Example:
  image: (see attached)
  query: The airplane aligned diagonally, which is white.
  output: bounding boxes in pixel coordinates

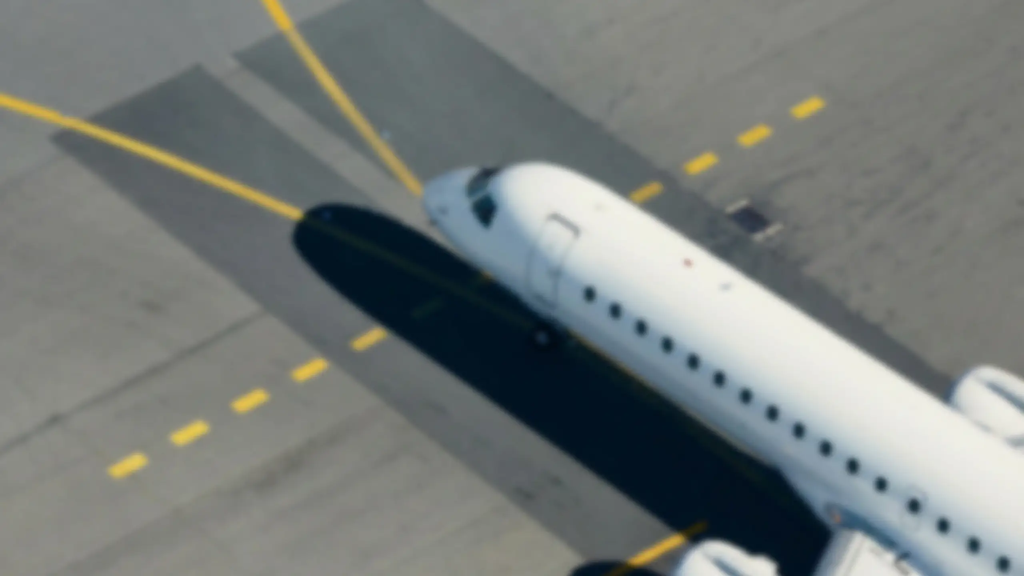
[420,162,1024,576]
